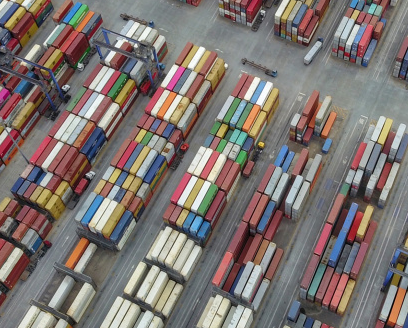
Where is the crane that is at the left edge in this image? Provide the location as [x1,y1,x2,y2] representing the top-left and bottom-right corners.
[0,45,68,116]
